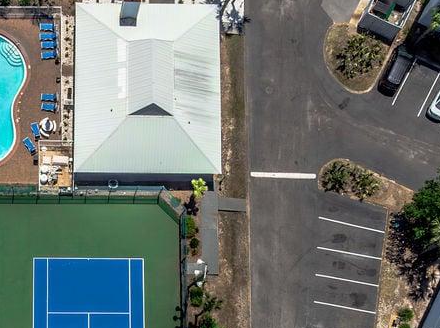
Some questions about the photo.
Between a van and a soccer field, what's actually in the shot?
van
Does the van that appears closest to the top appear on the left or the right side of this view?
right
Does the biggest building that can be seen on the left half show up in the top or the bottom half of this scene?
top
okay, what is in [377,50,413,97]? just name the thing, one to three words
van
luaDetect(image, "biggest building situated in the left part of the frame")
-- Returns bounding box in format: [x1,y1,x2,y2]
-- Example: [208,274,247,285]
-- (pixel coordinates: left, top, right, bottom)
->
[74,2,222,176]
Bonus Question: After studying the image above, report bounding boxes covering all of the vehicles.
[427,84,440,120]
[377,50,413,97]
